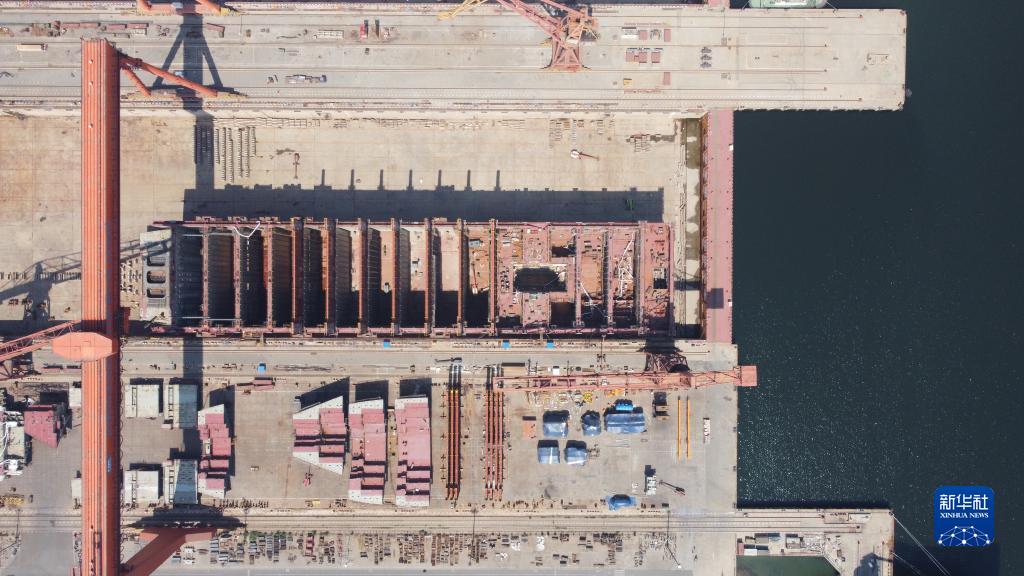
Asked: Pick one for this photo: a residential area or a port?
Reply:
port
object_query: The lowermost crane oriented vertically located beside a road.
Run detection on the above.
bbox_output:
[52,37,251,576]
